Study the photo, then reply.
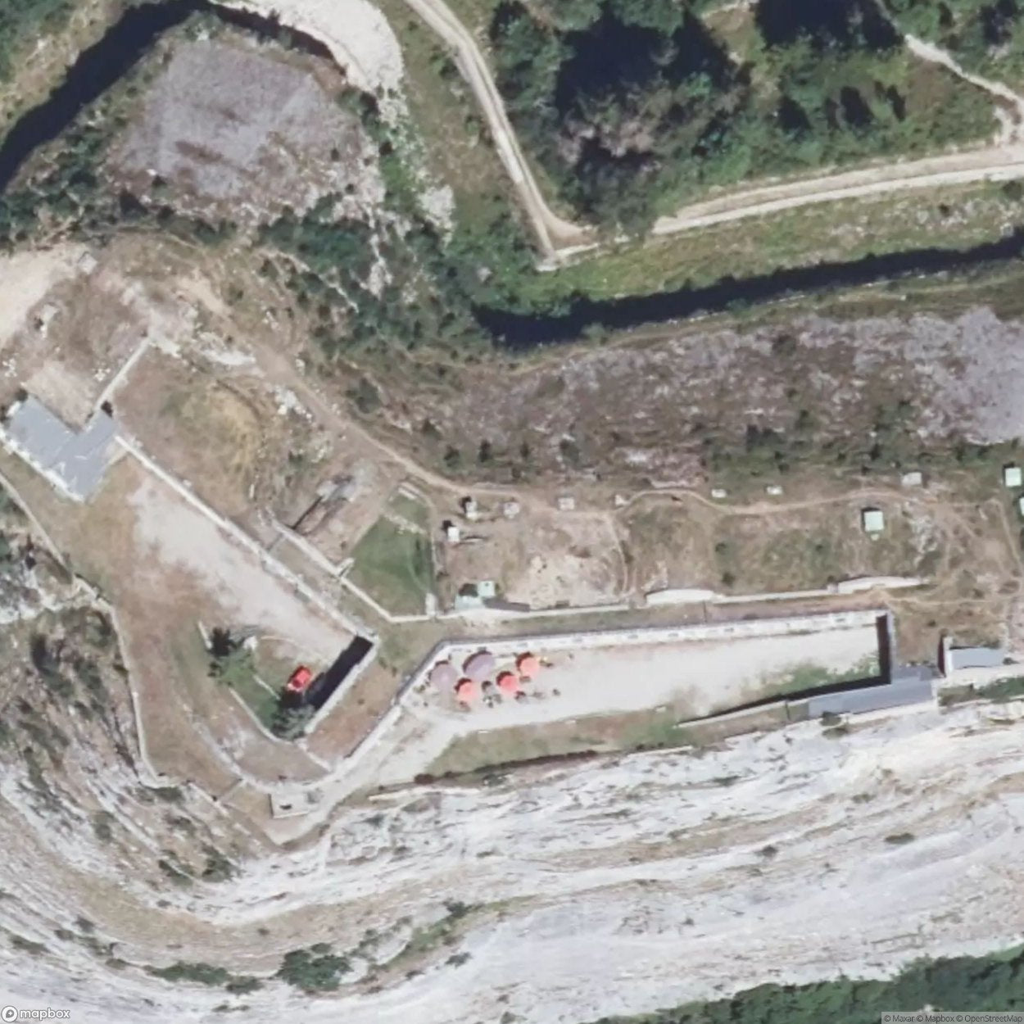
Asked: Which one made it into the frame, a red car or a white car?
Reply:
red car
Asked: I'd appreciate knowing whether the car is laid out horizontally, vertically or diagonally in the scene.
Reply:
diagonally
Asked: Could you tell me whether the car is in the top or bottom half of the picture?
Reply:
bottom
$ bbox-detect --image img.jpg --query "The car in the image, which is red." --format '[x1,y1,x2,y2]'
[286,665,310,693]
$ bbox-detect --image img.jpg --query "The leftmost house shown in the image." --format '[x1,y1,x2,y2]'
[8,394,80,470]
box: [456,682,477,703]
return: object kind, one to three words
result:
umbrella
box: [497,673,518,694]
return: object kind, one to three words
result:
umbrella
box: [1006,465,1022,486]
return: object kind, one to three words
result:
shed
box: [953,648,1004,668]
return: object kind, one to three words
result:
house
